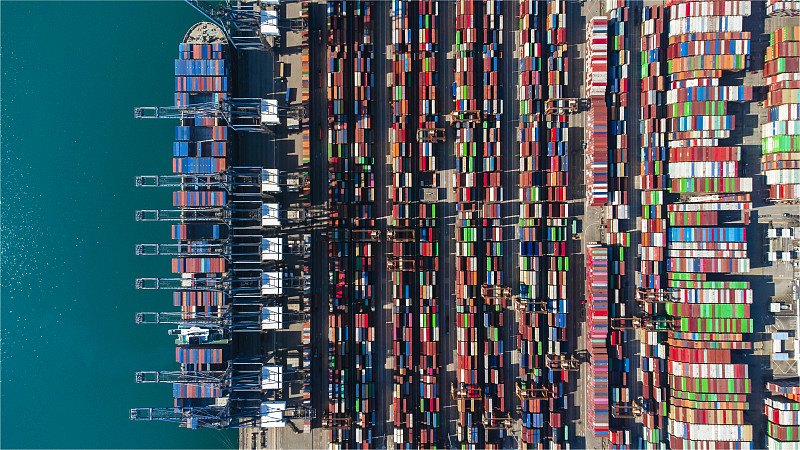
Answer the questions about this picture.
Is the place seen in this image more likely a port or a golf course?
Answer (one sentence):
The picture captures a port.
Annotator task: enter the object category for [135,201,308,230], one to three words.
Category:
container crane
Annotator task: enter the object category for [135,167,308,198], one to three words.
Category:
container crane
